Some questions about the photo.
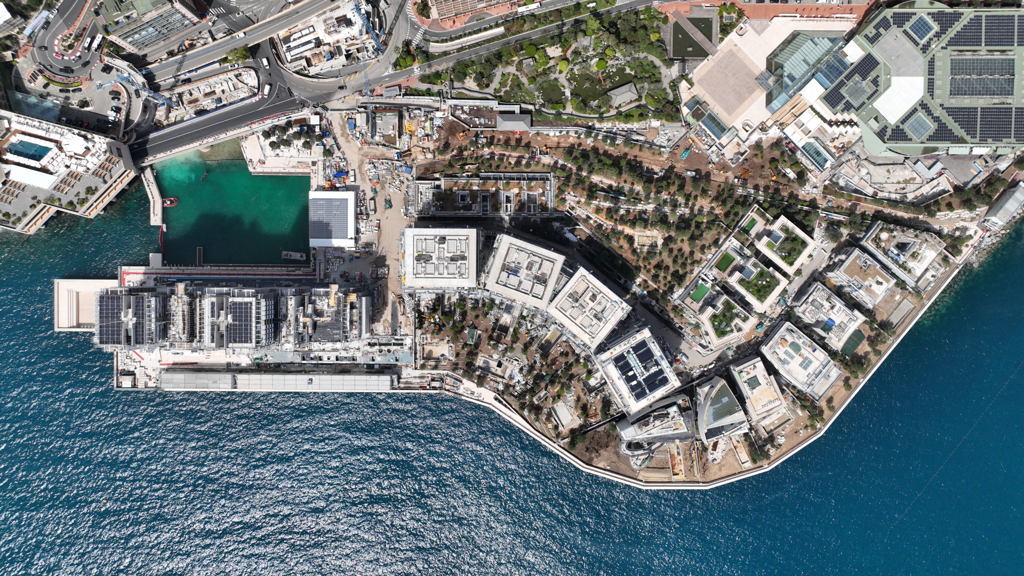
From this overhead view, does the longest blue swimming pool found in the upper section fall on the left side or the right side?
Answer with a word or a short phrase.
left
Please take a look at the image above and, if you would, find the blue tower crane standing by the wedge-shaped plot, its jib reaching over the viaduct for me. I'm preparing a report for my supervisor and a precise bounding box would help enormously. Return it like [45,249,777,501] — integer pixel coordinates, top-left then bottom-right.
[91,32,251,106]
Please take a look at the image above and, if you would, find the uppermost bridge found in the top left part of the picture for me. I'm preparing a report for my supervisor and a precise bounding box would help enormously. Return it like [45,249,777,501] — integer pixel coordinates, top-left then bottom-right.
[139,0,349,83]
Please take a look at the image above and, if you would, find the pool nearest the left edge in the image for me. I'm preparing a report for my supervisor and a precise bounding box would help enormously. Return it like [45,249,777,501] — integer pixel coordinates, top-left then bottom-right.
[4,140,50,161]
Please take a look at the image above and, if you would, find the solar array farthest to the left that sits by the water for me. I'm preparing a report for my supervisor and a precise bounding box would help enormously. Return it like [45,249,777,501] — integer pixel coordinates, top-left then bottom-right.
[310,198,348,239]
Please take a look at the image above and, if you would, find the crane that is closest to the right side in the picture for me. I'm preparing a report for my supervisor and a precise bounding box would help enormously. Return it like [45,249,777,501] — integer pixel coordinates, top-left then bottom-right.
[351,0,387,147]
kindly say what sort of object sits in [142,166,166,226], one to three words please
pier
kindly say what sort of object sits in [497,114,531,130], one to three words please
building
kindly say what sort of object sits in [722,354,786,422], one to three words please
house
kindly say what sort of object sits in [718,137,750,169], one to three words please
shed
